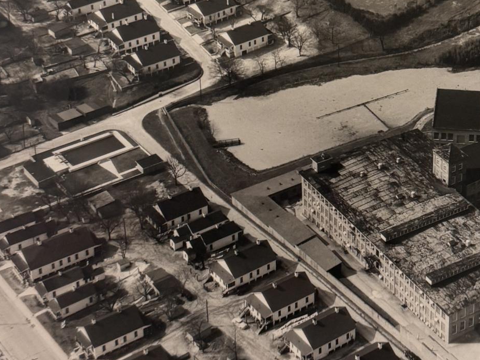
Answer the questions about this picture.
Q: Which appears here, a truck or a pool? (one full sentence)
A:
Visible in the photo is a pool.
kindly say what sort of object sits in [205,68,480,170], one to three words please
pond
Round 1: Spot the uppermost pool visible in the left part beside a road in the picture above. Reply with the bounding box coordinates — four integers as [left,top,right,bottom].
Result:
[52,130,134,171]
